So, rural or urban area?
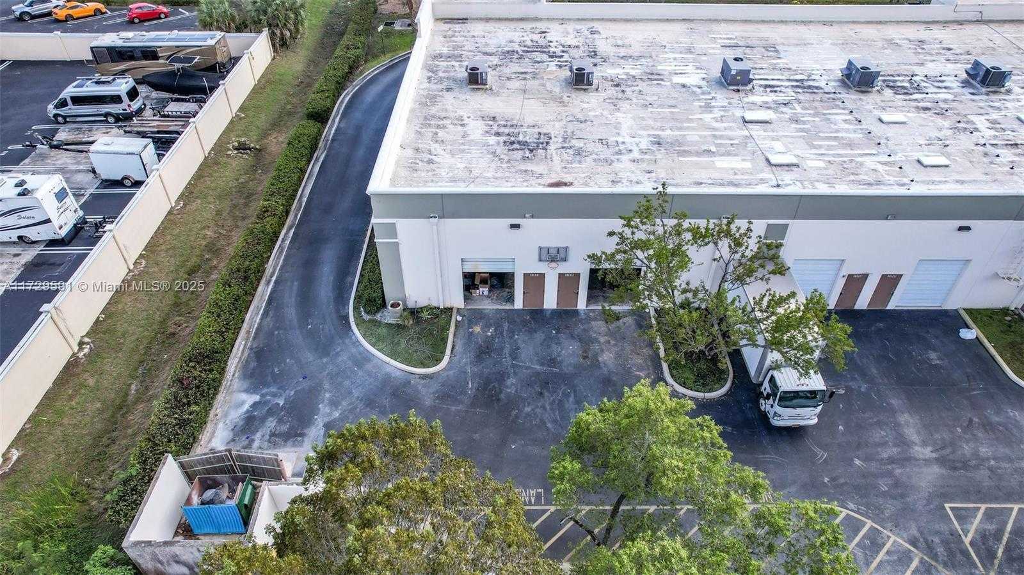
urban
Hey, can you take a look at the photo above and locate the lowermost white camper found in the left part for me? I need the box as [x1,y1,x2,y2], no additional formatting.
[0,173,88,243]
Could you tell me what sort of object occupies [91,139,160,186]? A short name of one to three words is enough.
trailer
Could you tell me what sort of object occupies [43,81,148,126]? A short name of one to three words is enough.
van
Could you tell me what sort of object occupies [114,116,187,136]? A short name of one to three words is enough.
trailer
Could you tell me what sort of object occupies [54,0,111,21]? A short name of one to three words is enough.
car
